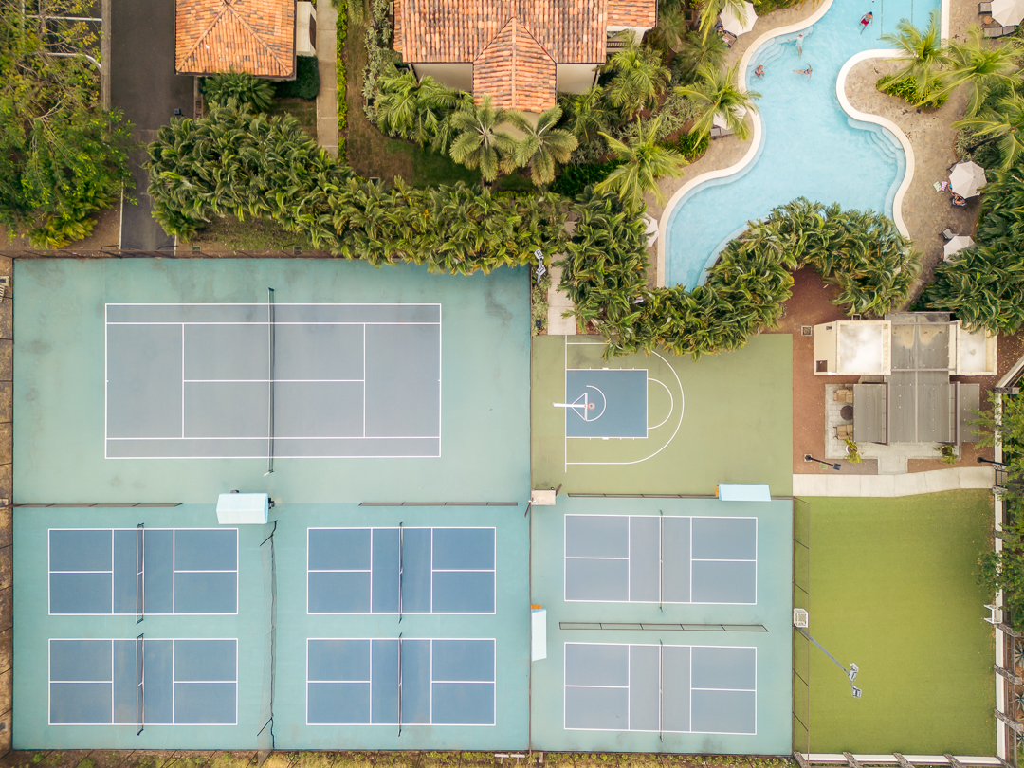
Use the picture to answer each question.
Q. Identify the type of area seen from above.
sports ground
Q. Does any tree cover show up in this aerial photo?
Yes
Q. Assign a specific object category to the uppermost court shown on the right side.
basketball court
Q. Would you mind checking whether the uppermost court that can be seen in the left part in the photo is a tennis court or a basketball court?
tennis court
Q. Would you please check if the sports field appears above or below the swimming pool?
below it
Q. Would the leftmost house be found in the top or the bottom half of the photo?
top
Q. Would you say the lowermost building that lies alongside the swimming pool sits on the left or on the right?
right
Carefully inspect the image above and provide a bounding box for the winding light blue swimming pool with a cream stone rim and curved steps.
[654,0,951,305]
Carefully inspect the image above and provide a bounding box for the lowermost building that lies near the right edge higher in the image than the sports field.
[816,312,997,445]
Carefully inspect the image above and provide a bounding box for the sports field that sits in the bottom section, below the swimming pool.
[795,490,996,756]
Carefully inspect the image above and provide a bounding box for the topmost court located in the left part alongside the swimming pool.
[12,258,530,503]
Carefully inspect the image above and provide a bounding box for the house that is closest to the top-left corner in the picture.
[173,0,323,82]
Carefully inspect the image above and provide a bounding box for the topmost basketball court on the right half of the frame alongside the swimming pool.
[531,334,793,496]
